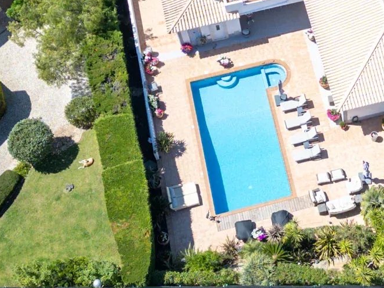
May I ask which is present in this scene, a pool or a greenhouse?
pool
